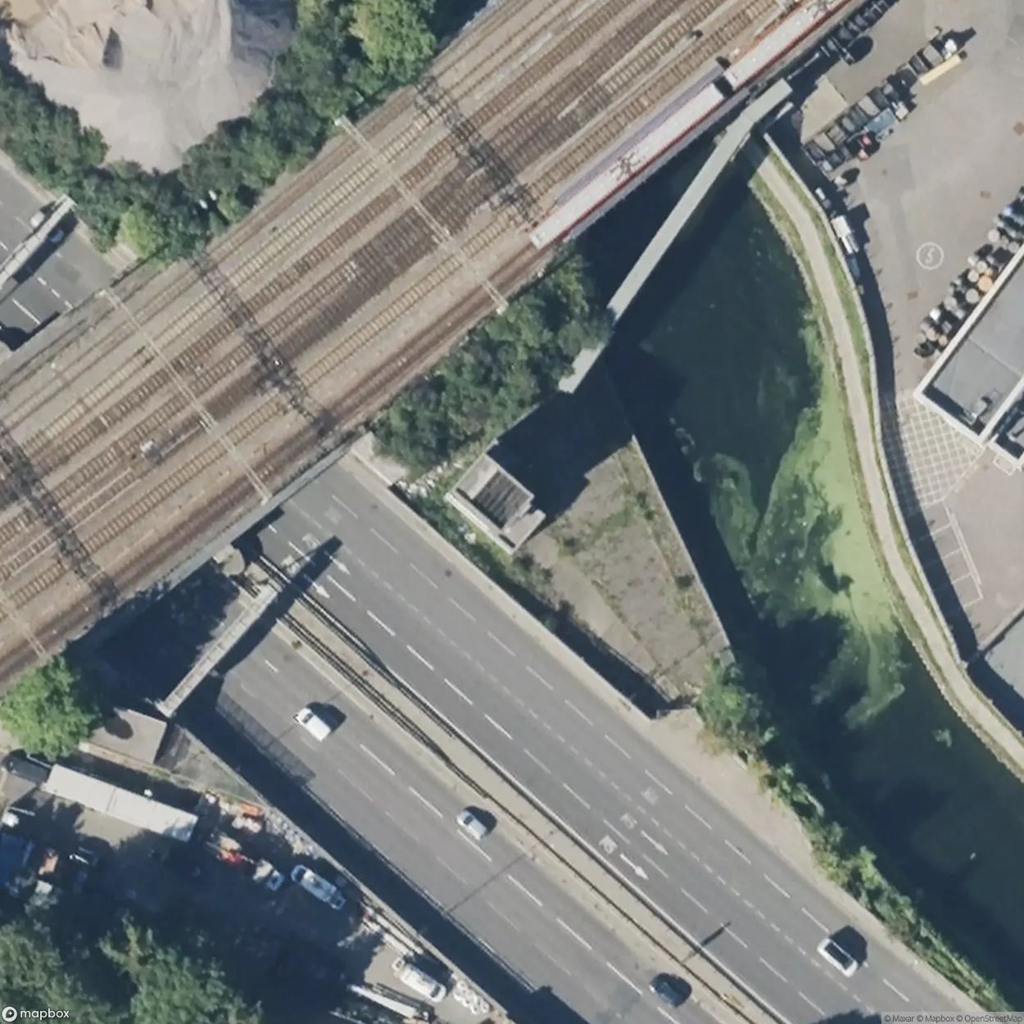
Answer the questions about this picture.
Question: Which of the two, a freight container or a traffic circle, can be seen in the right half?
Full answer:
Visible in the right half is a freight container.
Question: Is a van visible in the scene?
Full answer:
Yes, there's a van down there.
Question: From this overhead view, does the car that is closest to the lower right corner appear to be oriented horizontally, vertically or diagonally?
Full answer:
The car that is closest to the lower right corner is laid out diagonally.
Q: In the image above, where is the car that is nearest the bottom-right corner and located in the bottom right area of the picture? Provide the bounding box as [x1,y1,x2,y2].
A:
[816,936,858,976]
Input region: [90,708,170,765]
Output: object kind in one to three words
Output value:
shed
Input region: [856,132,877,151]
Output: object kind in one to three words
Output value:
vehicle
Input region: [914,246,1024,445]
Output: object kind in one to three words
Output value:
building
